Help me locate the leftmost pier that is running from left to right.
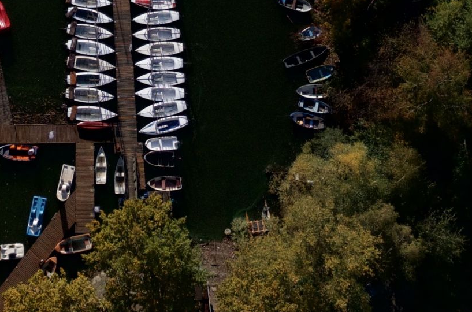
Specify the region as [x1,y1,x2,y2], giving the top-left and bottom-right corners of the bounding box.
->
[0,123,78,144]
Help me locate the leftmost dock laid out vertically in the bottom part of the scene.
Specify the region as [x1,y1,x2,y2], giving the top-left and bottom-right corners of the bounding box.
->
[75,143,95,233]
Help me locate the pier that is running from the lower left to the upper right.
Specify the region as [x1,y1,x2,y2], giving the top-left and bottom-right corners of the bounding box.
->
[0,192,75,312]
